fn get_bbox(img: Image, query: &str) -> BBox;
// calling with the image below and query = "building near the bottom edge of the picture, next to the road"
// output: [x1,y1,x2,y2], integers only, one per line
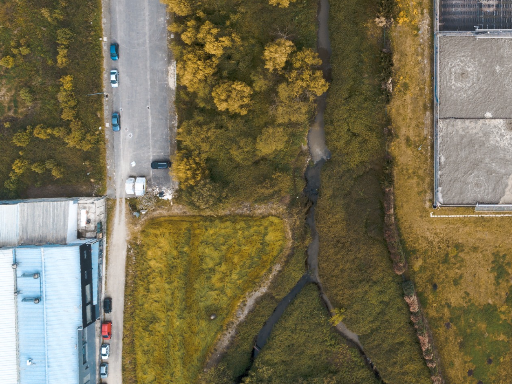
[0,239,99,384]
